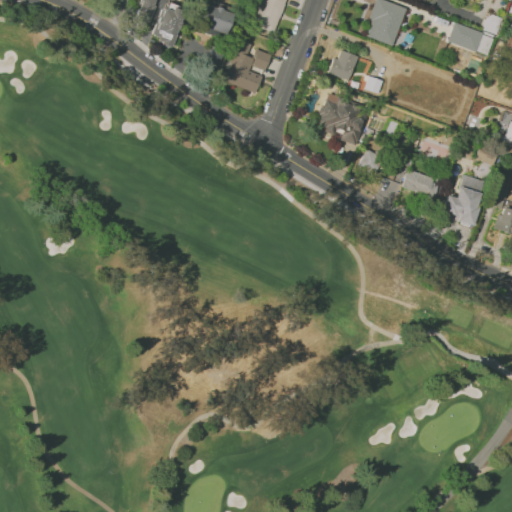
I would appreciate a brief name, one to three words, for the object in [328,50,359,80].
house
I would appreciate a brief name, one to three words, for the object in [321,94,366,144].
house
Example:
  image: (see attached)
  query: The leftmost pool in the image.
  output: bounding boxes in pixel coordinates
[307,93,320,114]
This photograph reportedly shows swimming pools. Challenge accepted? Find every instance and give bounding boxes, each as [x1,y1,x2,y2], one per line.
[404,32,414,44]
[307,93,320,114]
